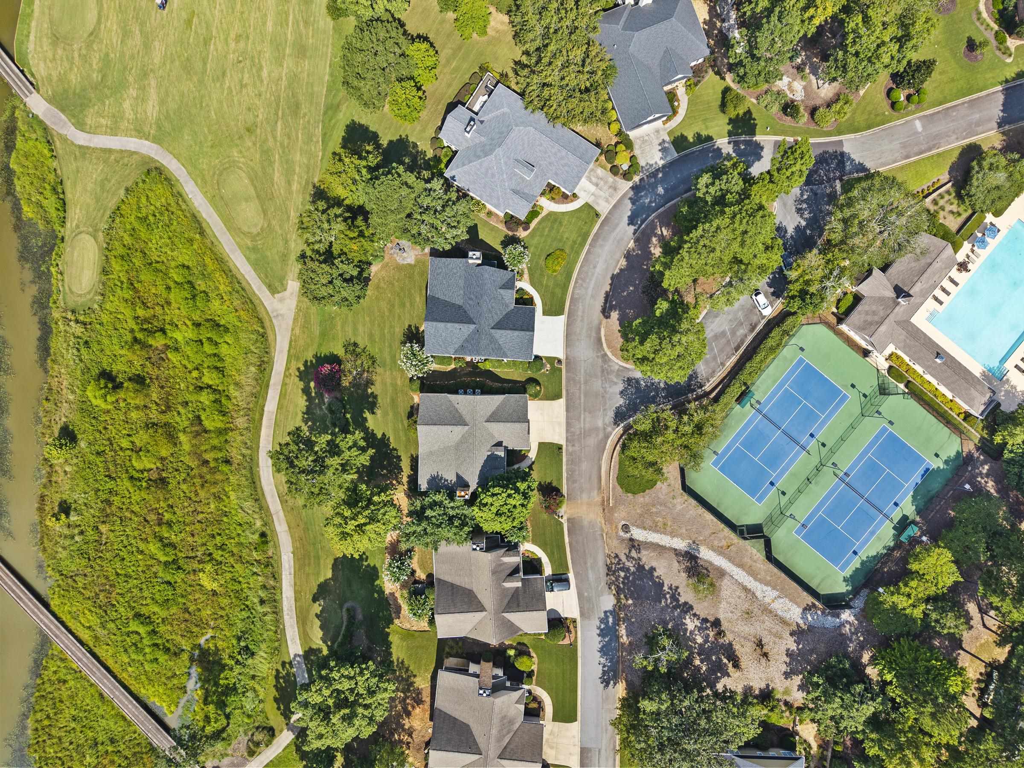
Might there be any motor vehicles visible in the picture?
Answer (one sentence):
Yes, looking at the shot, I can spot a motor vehicle.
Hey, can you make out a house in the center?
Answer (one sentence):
Yes, a house appears in the center.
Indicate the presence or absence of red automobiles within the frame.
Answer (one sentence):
No, the photo shows no red automobile.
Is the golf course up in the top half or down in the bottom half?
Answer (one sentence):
You can find the golf course in the top half.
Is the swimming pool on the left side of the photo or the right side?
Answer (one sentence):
The swimming pool is on the right side of the image.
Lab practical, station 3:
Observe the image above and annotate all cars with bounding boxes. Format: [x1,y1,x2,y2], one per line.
[777,245,798,272]
[546,579,572,594]
[749,289,771,316]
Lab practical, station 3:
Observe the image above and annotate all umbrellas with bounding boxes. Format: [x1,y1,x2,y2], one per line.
[981,225,997,240]
[970,237,987,251]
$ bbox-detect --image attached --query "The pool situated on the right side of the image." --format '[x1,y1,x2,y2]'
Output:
[928,216,1024,381]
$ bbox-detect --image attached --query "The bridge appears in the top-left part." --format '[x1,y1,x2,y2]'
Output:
[0,41,39,101]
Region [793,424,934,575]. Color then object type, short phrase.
blue tennis court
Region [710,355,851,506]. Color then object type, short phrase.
blue tennis court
